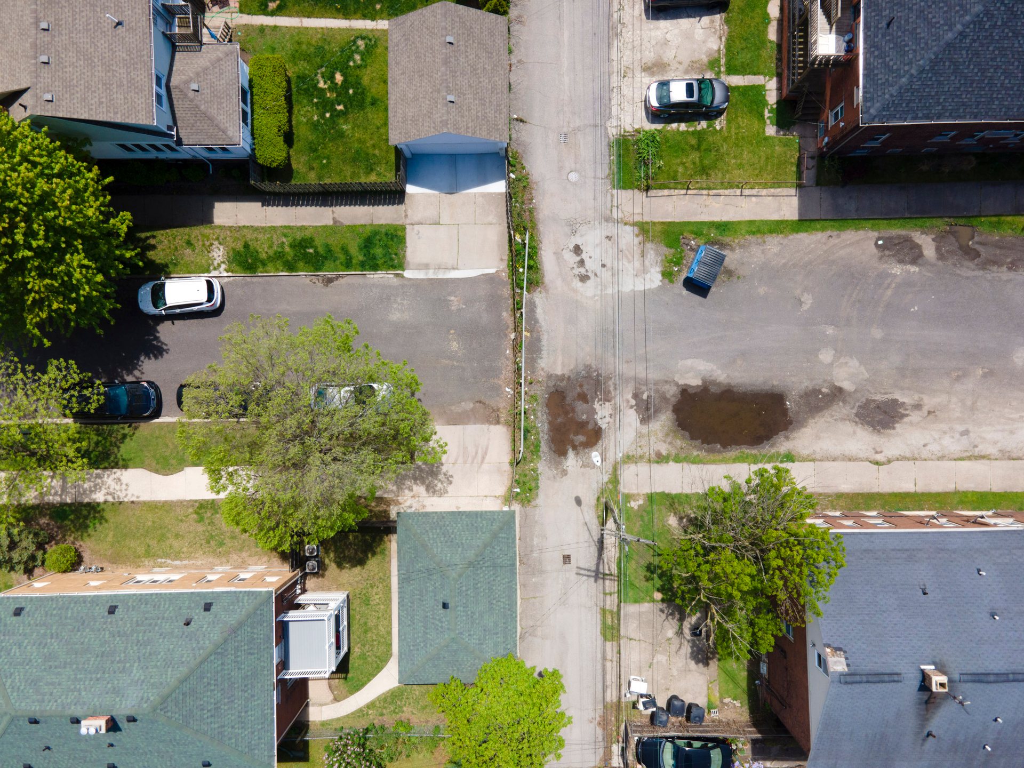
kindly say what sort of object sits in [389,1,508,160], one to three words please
building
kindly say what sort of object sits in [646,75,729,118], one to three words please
car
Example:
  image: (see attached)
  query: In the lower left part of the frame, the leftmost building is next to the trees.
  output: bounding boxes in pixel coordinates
[0,568,306,768]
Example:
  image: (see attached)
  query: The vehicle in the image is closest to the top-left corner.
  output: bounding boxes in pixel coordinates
[138,275,220,315]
